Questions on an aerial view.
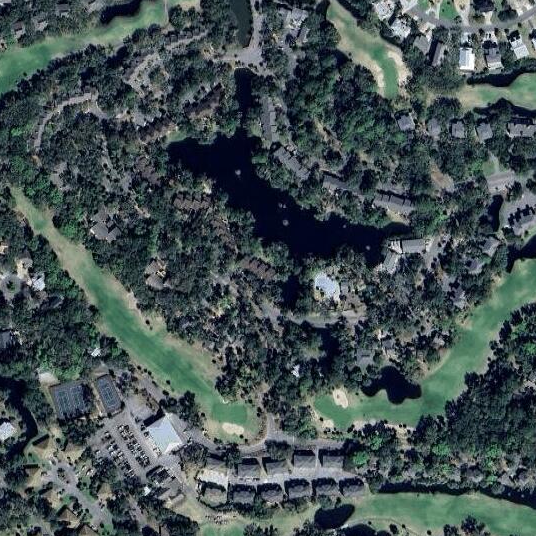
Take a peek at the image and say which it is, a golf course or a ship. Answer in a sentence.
The image shows a golf course.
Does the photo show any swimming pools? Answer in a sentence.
Yes, a swimming pool can be made out from above.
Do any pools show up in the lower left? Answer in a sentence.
No, looking in the lower left, there is no pool.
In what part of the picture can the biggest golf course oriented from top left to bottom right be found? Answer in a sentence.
The biggest golf course oriented from top left to bottom right is located in the left region of the scene.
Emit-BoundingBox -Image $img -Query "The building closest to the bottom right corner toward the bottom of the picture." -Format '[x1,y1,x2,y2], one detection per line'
[343,483,366,499]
